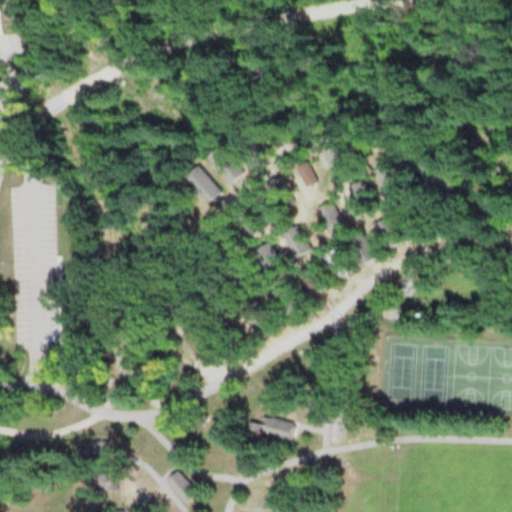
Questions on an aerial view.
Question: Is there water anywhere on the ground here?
No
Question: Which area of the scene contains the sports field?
bottom right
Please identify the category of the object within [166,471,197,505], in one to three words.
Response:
building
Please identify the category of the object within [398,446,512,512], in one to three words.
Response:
sports field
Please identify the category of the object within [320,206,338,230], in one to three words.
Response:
building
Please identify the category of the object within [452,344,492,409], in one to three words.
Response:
basketball court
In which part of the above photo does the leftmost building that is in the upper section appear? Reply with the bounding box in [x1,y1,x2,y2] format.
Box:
[187,166,222,202]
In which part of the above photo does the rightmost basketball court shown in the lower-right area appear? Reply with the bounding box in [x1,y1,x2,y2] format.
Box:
[488,346,512,411]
